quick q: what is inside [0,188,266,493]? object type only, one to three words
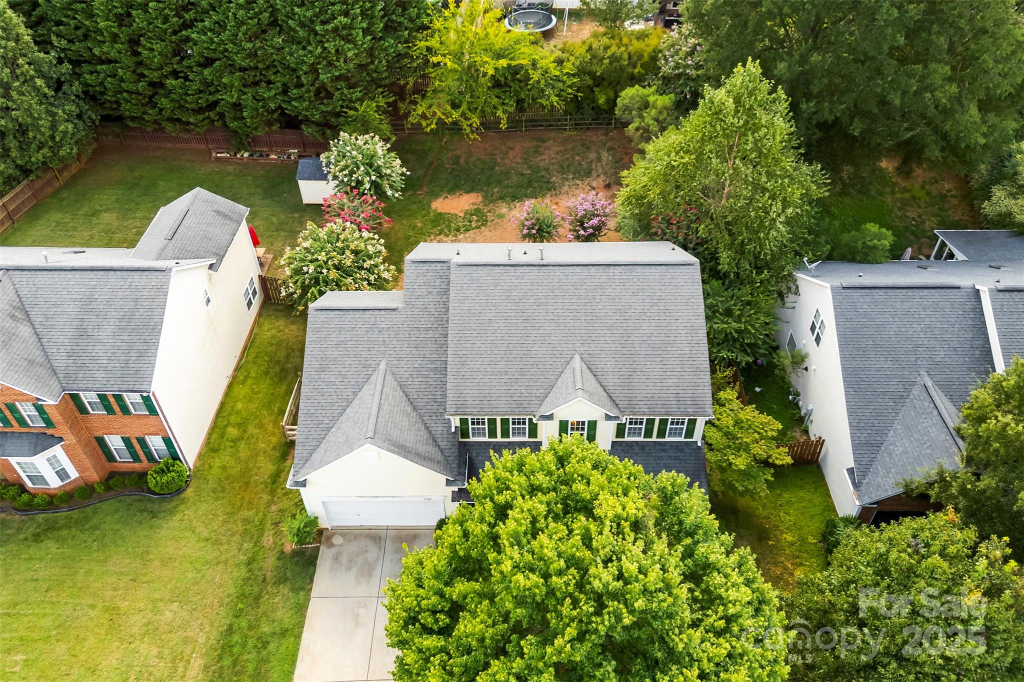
house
